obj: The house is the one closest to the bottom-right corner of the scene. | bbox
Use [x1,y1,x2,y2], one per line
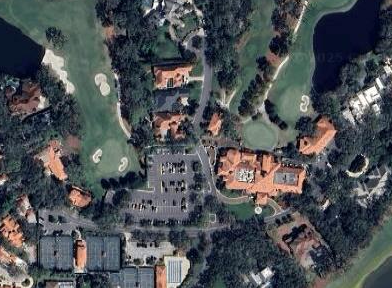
[310,243,333,267]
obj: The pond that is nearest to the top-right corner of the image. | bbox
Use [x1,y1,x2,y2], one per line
[312,0,387,97]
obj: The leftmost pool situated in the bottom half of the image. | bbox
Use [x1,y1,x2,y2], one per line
[166,256,190,288]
